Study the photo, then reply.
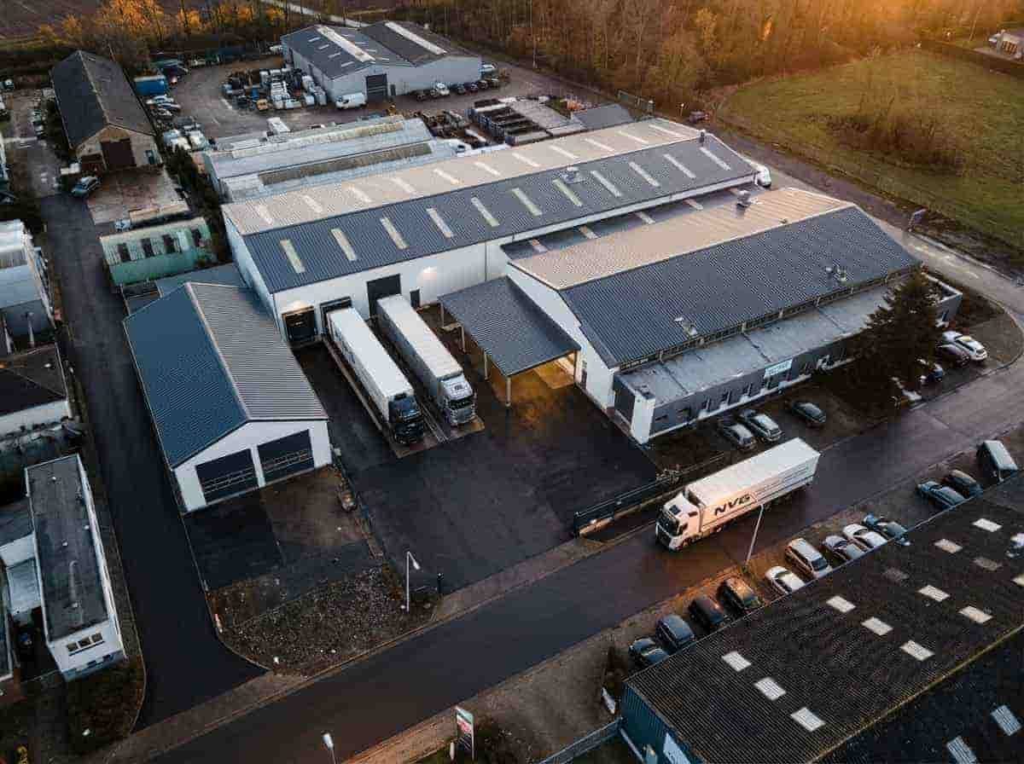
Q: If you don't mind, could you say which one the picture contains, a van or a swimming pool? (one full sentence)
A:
I can see a van in this picture.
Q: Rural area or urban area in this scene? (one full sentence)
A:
From above, the setting appears urban.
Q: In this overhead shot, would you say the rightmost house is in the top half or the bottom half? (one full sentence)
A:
The rightmost house is in the top half of the image.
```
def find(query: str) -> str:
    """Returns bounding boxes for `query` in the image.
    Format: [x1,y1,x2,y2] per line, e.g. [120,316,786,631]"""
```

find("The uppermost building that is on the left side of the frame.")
[268,3,477,103]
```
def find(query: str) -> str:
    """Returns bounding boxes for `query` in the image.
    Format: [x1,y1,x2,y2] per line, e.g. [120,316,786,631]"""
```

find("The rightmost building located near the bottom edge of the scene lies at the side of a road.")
[615,482,1024,764]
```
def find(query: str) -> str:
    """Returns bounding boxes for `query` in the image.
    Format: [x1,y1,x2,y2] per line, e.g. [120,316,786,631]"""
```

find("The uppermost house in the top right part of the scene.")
[984,22,1024,57]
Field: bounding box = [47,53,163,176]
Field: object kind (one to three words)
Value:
barn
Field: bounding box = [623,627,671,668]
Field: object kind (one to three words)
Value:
car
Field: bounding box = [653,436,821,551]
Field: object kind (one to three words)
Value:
truck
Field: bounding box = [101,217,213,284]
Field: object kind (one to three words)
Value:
shed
